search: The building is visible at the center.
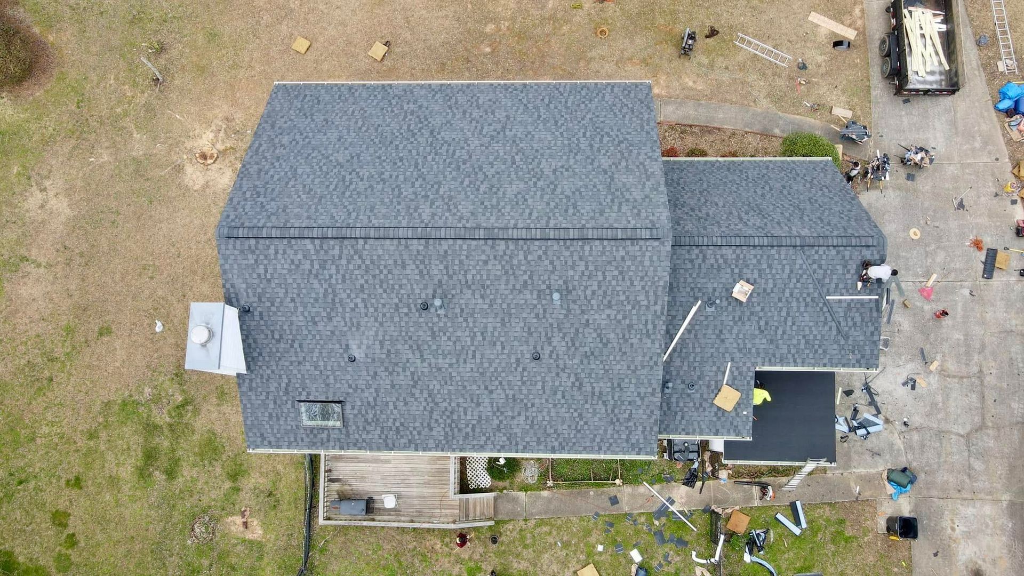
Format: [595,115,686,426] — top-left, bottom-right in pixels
[184,80,883,467]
